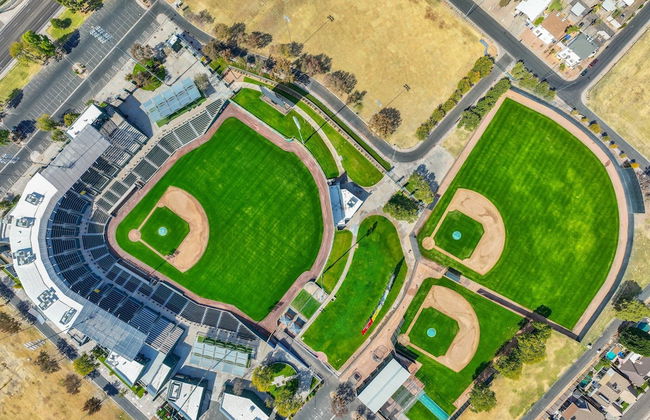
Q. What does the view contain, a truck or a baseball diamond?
baseball diamond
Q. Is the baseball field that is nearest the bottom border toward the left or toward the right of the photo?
right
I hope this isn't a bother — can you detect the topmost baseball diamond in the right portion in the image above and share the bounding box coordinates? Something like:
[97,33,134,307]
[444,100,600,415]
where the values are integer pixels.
[411,91,628,341]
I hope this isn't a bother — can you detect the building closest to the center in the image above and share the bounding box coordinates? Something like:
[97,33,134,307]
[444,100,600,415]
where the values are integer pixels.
[330,183,363,226]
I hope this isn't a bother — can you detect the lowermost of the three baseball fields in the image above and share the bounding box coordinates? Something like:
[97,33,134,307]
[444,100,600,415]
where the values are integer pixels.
[396,277,523,420]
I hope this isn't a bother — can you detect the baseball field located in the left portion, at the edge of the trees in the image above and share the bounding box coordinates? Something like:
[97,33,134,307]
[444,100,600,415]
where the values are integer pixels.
[107,101,334,338]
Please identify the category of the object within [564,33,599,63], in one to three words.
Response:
house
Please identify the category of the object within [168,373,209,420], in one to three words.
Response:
building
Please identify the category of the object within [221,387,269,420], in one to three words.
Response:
building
